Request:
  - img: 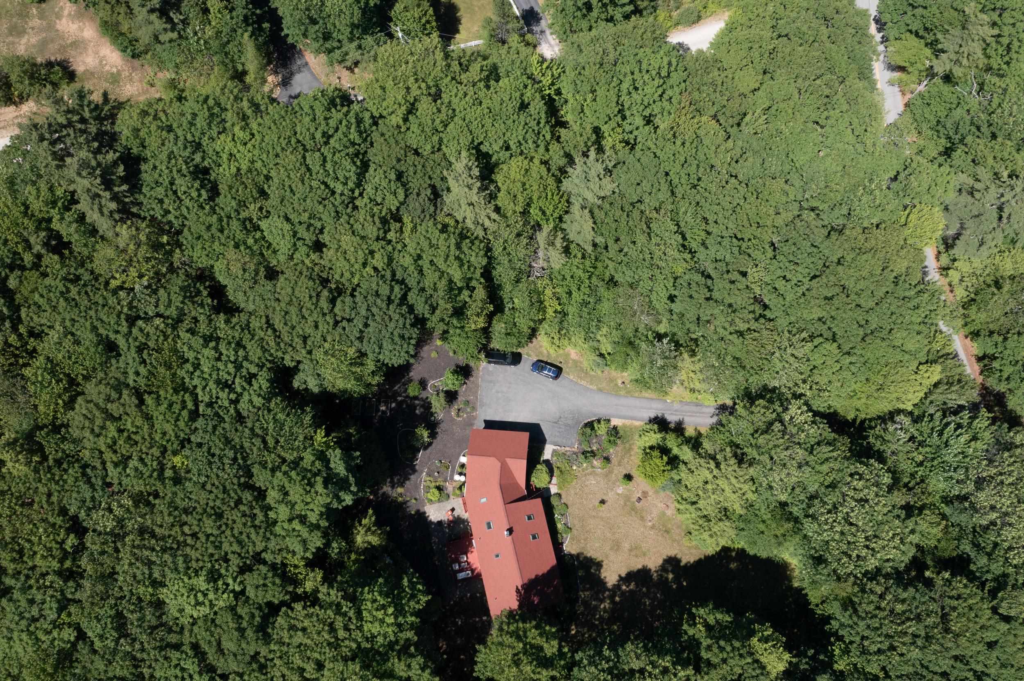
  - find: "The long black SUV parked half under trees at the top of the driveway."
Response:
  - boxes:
[486,351,523,368]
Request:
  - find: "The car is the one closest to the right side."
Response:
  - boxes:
[529,362,562,383]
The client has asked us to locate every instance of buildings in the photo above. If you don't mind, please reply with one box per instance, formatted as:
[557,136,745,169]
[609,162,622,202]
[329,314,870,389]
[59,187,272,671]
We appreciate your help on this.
[463,429,571,626]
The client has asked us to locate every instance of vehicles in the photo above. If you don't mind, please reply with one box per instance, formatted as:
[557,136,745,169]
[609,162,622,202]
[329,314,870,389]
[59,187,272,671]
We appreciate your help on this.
[486,351,523,368]
[529,362,562,383]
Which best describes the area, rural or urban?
rural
